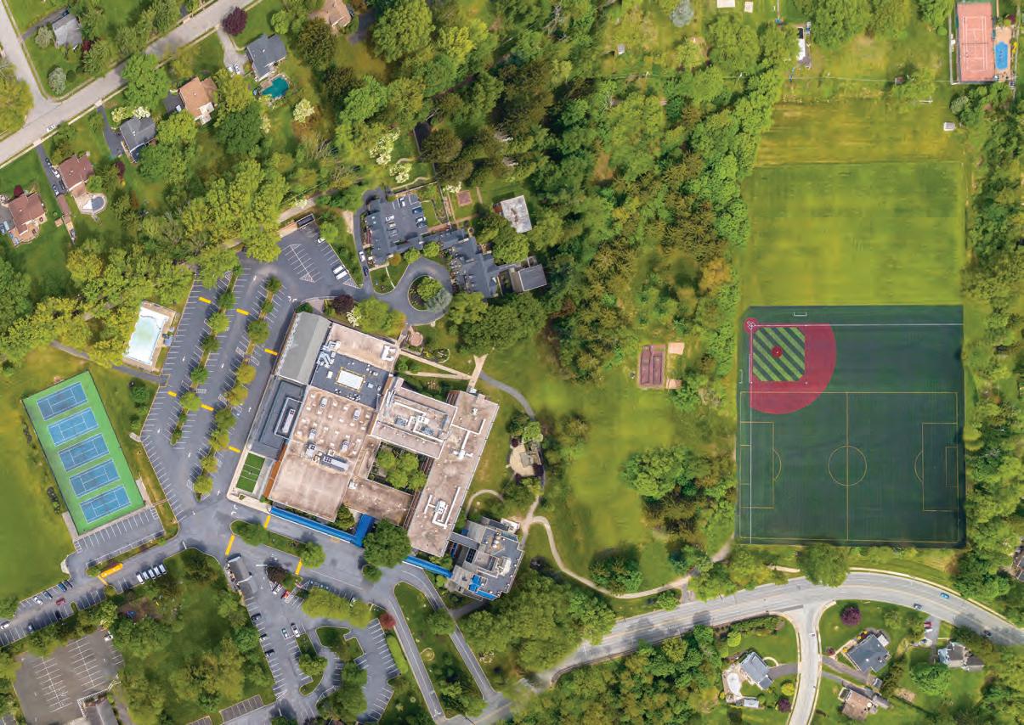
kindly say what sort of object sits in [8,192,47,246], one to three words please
house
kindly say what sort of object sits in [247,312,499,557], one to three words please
building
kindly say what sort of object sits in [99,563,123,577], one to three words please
vehicle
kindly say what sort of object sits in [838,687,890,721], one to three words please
house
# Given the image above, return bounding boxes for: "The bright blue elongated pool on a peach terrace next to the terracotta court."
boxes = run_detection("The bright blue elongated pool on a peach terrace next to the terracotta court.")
[995,26,1011,81]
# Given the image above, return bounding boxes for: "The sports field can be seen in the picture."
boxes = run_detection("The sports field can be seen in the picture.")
[736,305,965,548]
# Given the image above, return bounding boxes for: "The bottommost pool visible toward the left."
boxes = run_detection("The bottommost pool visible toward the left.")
[125,304,176,373]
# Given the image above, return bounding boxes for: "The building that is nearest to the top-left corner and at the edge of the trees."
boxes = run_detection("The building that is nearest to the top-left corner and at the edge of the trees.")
[52,16,83,47]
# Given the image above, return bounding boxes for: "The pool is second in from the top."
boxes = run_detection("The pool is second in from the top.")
[260,73,292,100]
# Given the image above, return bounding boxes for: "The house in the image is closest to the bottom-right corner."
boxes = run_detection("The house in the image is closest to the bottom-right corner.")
[938,641,984,671]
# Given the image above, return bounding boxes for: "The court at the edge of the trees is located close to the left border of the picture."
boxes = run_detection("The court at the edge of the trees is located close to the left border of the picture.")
[23,372,143,535]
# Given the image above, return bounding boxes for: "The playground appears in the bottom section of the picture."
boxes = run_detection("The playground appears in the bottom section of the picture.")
[510,439,543,479]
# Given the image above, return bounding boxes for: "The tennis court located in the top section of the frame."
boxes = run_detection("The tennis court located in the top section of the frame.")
[957,0,996,81]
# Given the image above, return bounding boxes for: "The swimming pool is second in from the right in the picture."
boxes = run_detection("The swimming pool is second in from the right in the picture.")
[723,664,753,704]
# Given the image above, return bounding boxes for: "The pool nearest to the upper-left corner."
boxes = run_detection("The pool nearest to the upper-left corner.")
[71,192,107,214]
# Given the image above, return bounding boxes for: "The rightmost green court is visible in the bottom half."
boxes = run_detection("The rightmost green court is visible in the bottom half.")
[236,451,265,493]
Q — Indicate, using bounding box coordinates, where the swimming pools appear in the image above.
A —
[723,664,753,704]
[260,73,292,100]
[995,26,1011,81]
[71,192,107,214]
[125,304,176,373]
